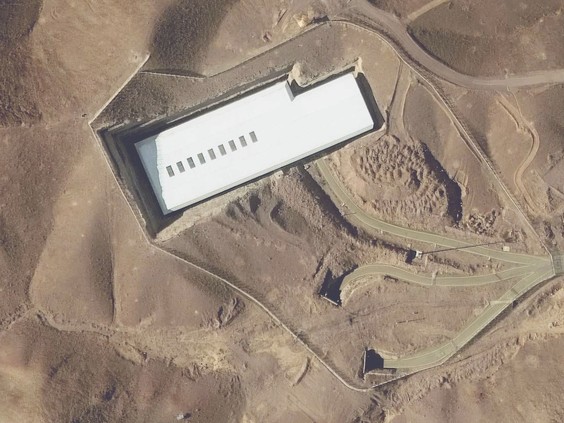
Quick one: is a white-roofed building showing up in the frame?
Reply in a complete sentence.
Yes, I can see a white-roofed building in this picture.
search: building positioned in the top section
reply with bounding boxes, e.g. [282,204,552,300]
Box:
[137,74,375,213]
